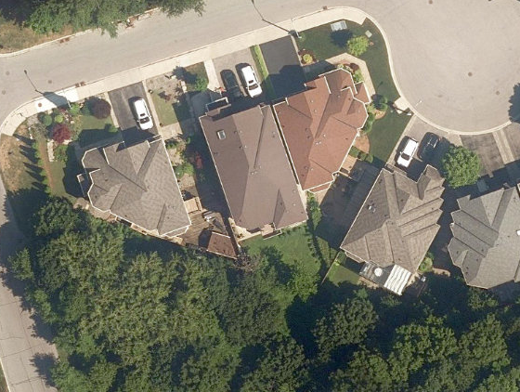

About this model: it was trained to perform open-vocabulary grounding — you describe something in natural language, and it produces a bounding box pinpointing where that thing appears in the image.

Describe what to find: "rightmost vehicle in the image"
[419,132,443,164]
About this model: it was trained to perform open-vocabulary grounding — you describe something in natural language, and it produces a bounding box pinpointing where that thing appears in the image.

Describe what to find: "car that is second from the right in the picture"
[397,135,418,168]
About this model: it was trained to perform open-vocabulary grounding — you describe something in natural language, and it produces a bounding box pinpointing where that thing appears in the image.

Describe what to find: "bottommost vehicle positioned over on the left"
[133,97,151,130]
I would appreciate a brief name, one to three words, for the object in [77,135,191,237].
house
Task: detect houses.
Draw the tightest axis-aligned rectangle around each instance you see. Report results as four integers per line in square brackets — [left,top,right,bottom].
[339,164,445,273]
[273,68,371,193]
[77,135,191,237]
[447,186,520,289]
[199,97,308,230]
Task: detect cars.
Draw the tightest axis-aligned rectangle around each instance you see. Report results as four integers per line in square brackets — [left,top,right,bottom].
[419,132,443,164]
[221,66,243,98]
[240,63,261,97]
[133,97,151,130]
[397,135,418,168]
